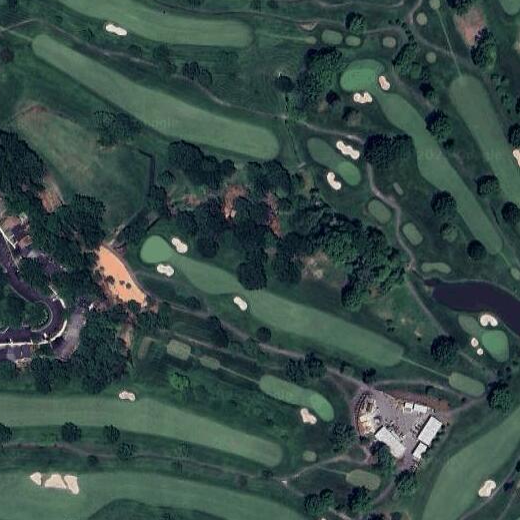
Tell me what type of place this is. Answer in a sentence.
The picture captures a golf course.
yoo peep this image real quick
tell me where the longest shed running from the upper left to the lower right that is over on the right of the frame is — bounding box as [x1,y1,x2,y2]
[375,426,408,458]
